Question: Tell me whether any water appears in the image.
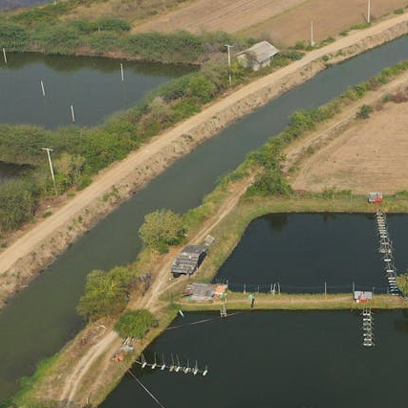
Yes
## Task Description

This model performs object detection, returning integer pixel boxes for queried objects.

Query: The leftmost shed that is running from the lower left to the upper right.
[162,243,209,281]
